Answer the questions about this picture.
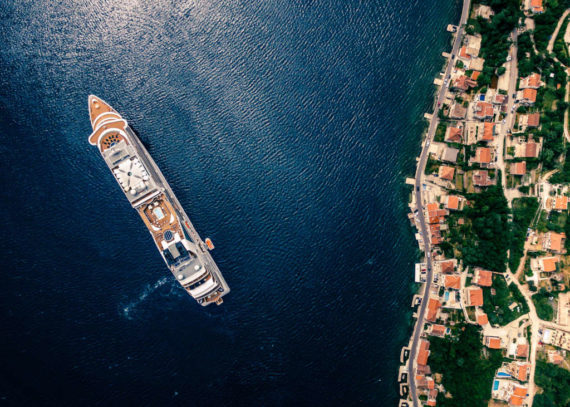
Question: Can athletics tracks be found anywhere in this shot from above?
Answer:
No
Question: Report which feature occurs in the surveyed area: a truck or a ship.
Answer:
ship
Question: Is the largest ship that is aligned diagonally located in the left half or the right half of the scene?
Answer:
left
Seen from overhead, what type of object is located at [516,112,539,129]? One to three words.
house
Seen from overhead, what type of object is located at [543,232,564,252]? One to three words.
house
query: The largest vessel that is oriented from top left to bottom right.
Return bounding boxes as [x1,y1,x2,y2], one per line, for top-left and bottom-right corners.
[87,94,229,308]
